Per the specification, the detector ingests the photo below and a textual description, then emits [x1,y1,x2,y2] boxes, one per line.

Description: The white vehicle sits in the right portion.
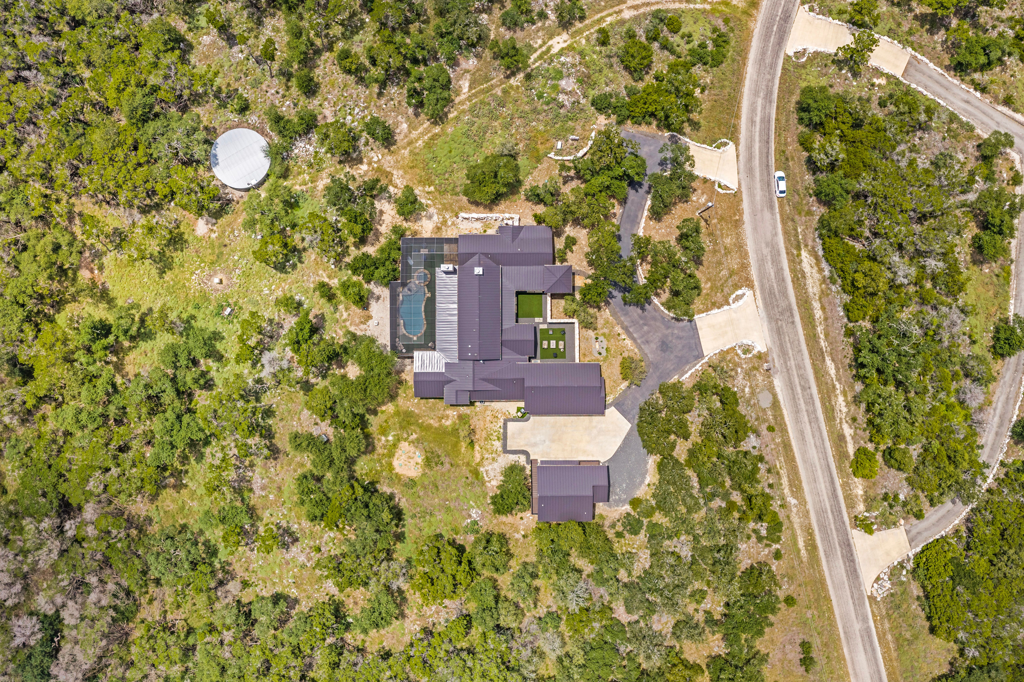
[773,171,787,198]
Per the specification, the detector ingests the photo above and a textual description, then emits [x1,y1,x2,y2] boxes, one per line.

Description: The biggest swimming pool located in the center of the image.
[399,283,428,337]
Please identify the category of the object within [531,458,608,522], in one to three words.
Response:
shed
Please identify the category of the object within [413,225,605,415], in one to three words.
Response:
house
